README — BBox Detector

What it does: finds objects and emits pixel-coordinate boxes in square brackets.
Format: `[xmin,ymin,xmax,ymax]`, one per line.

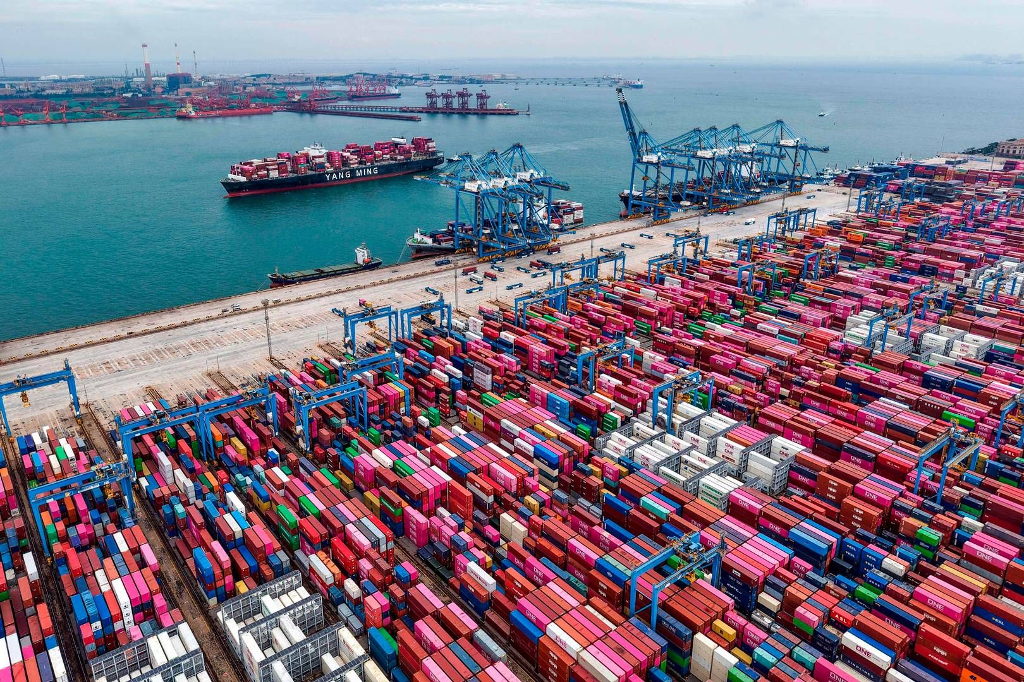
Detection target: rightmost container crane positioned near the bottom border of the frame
[635,514,738,666]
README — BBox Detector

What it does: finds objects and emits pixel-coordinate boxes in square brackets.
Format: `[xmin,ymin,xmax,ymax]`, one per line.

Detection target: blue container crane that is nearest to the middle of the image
[513,285,564,330]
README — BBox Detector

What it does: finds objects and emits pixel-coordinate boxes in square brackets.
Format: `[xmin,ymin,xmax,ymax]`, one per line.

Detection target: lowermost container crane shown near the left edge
[20,452,144,575]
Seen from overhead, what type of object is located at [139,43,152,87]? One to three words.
chimney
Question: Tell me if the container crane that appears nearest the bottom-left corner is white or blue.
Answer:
blue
